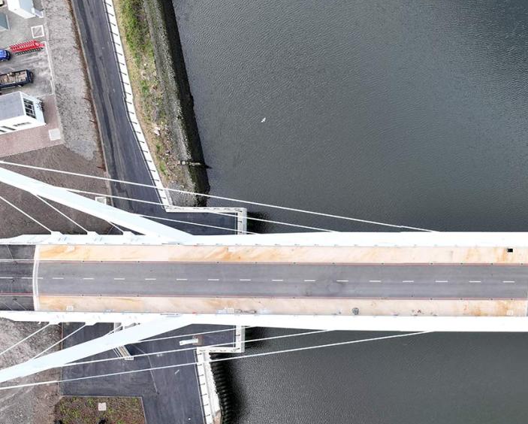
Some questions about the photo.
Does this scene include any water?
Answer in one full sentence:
Yes, water can be seen from above here.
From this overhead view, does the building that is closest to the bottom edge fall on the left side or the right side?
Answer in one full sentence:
The building that is closest to the bottom edge appears in the left half of the scene.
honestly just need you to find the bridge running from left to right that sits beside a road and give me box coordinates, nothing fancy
[0,159,528,389]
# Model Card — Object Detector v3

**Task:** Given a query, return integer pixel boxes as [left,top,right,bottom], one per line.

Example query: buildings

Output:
[0,11,12,32]
[5,0,34,18]
[0,93,45,133]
